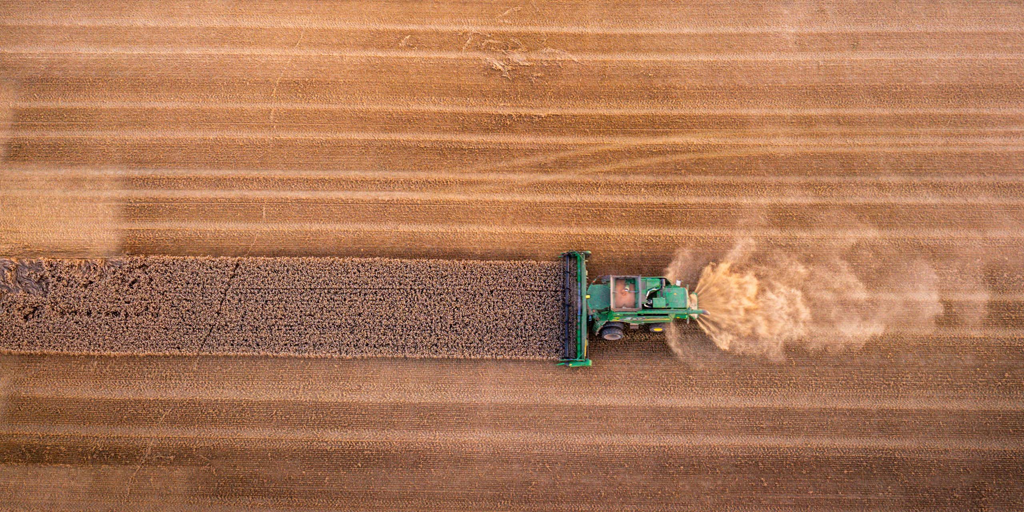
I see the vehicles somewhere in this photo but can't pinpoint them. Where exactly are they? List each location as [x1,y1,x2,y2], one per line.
[557,250,712,366]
